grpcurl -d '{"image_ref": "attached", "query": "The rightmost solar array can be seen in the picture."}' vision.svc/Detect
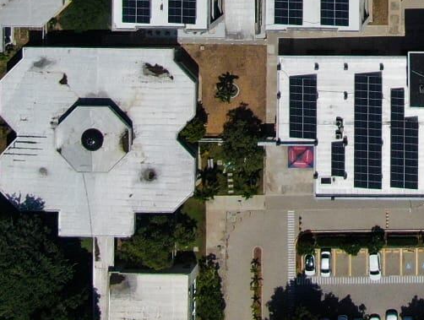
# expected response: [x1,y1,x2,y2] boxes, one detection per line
[390,88,417,189]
